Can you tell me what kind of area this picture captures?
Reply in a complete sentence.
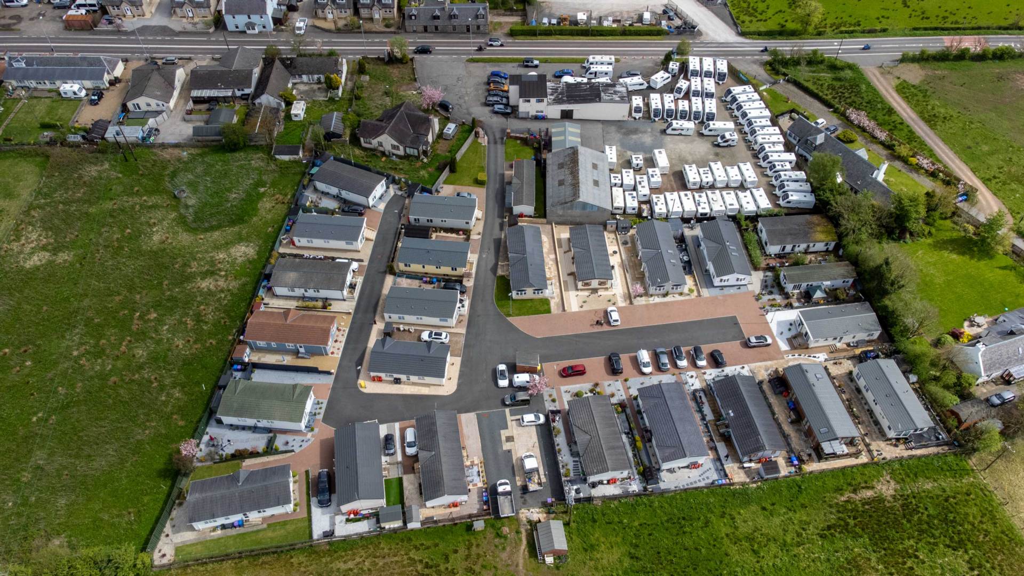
The area seen from above is a residential area.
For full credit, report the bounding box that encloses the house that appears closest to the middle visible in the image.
[506,222,547,300]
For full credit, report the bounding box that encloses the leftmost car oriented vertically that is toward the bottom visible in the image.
[315,469,331,507]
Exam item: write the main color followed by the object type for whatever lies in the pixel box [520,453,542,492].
white truck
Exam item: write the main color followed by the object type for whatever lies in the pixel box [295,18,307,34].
white vehicle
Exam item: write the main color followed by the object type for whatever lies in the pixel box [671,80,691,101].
white camper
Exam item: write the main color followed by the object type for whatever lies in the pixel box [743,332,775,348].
gray car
